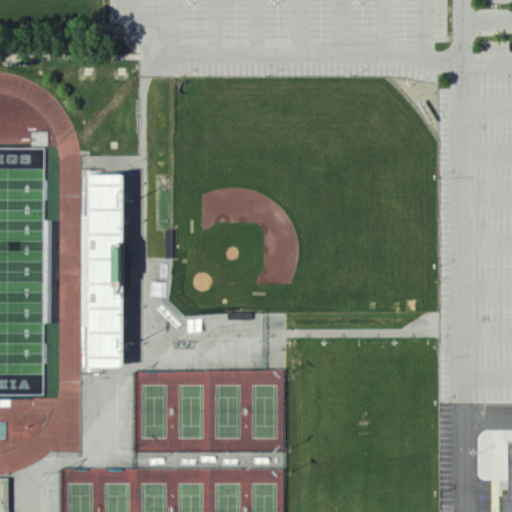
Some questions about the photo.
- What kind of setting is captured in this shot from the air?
sports ground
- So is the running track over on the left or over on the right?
left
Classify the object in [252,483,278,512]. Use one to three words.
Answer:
tennis court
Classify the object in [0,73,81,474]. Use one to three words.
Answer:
running track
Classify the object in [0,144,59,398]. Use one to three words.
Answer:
sports field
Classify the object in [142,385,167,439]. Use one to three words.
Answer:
tennis court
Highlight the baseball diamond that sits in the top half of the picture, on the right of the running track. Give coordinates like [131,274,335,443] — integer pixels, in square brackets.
[172,78,438,316]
